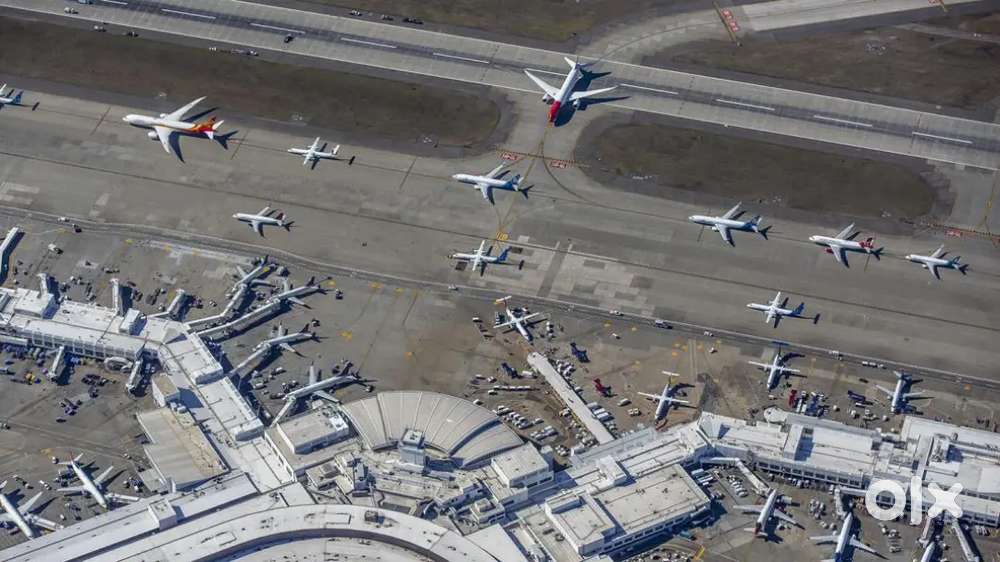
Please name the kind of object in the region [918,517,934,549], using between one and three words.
jet bridge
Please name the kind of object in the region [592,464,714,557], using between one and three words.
building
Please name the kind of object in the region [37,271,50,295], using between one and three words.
jet bridge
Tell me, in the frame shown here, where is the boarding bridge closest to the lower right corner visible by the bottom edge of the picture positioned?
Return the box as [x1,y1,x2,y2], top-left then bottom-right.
[948,516,978,562]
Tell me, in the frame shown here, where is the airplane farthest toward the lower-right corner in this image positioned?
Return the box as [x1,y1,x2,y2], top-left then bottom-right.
[889,538,940,562]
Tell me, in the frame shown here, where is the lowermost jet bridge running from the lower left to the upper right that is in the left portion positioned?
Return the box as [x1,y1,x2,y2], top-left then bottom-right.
[269,394,298,430]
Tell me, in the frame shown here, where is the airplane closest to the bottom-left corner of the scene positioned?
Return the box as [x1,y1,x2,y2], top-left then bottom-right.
[0,484,40,538]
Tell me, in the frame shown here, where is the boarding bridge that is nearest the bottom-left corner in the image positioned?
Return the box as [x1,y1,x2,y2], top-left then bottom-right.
[22,510,60,534]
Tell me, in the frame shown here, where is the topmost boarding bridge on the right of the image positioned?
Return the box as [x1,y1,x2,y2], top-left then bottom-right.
[702,457,772,498]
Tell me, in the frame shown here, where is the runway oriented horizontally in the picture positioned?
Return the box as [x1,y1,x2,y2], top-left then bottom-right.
[0,0,1000,169]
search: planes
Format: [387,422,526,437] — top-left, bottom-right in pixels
[126,98,228,153]
[257,324,313,353]
[874,367,924,414]
[808,515,877,562]
[689,202,763,240]
[809,224,874,261]
[287,137,341,164]
[524,47,619,122]
[452,162,524,199]
[730,491,796,537]
[267,277,320,306]
[282,363,357,402]
[453,238,511,270]
[748,341,801,388]
[493,296,540,340]
[0,484,40,538]
[905,245,962,275]
[232,256,276,294]
[638,370,689,419]
[746,290,806,322]
[232,203,287,233]
[54,451,115,509]
[889,538,940,562]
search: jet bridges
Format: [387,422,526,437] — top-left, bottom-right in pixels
[48,346,65,387]
[196,295,284,340]
[227,342,276,381]
[37,271,50,295]
[948,516,978,562]
[184,281,250,332]
[103,492,142,505]
[269,394,298,430]
[918,517,934,549]
[835,489,864,526]
[124,360,142,397]
[22,510,60,534]
[702,457,772,498]
[146,287,186,319]
[110,277,122,315]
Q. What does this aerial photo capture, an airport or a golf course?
airport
